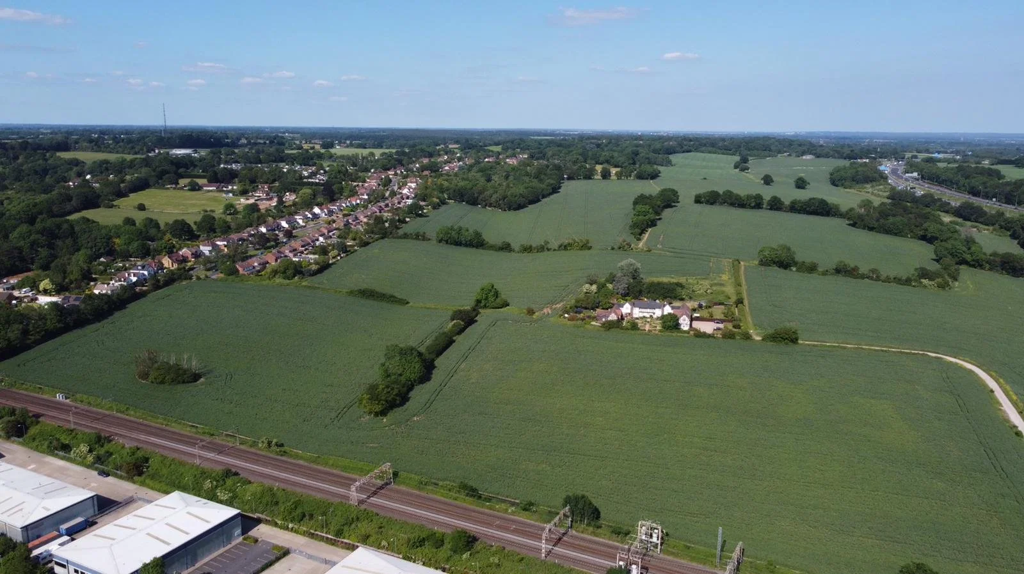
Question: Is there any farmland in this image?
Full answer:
Yes, farmland shows up in the scene.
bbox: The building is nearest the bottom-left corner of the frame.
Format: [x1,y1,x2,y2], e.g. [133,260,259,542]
[0,448,98,541]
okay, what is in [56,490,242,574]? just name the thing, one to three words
building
